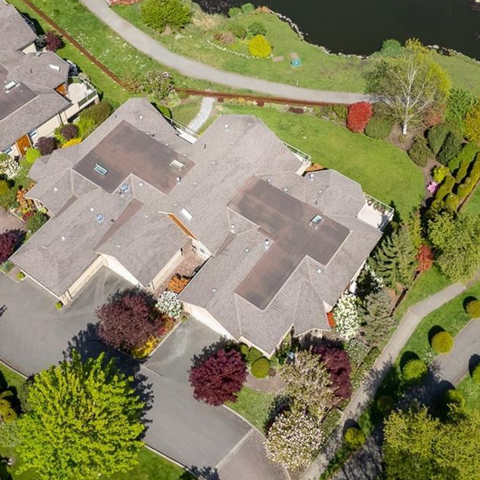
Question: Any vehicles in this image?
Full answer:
No, the scene contains no vehicle.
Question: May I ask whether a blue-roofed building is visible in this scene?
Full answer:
No, I can't see a single blue-roofed building in this photo.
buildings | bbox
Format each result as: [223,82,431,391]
[7,102,392,362]
[0,0,99,156]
